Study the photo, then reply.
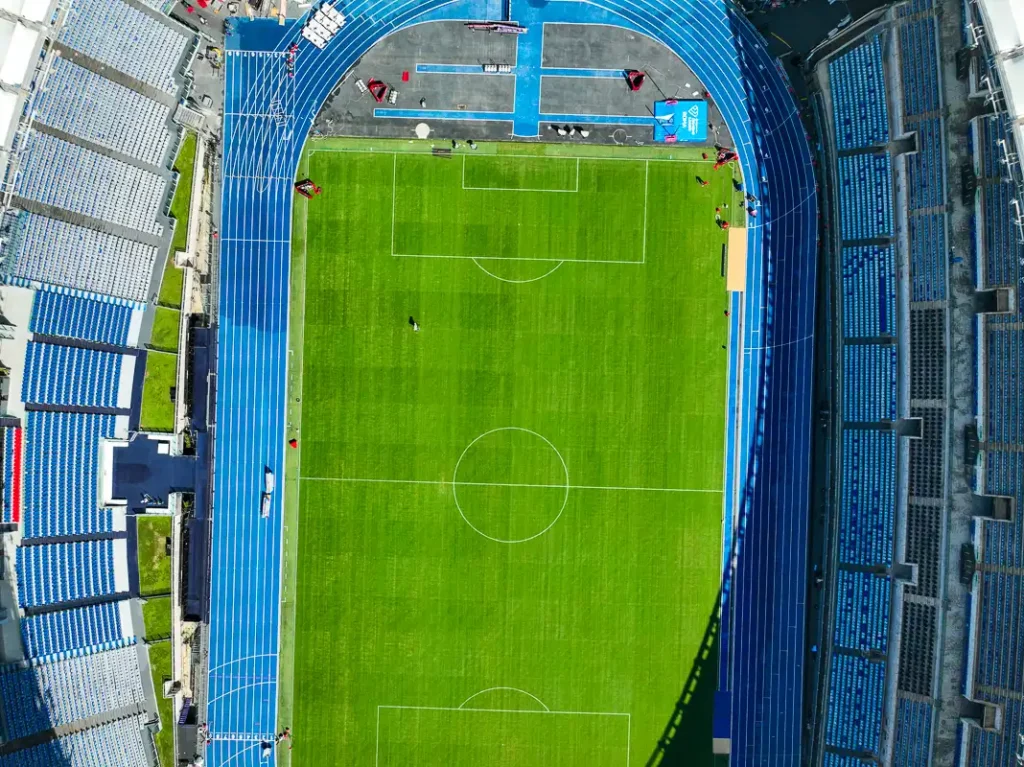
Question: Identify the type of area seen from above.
sports ground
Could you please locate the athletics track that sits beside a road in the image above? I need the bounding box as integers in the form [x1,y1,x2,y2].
[204,0,817,767]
